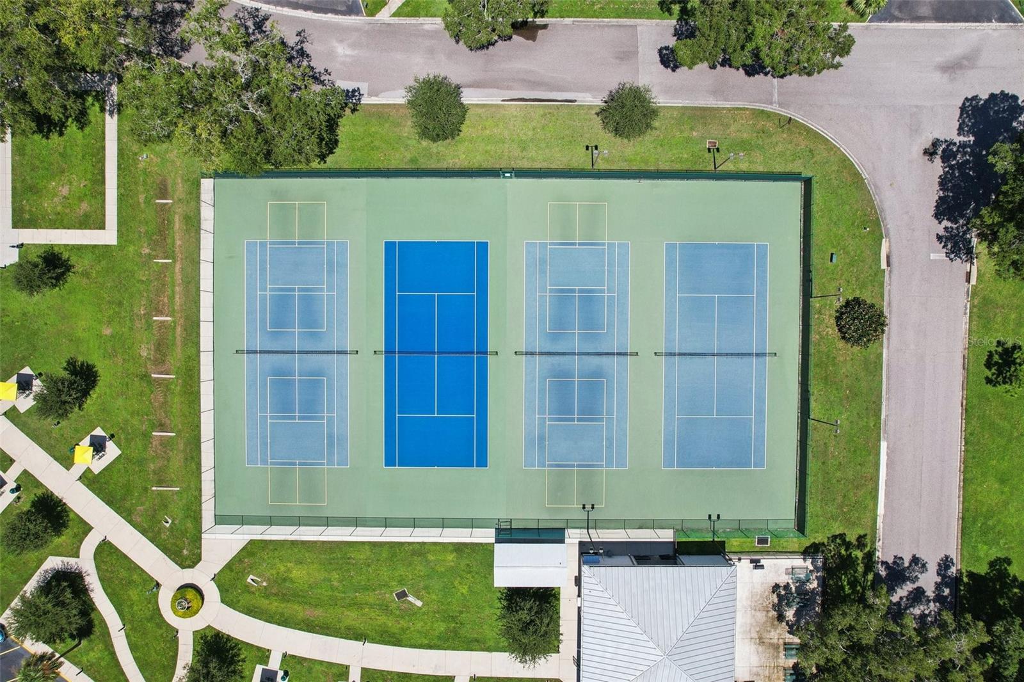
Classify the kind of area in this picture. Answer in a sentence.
The picture captures a sports ground.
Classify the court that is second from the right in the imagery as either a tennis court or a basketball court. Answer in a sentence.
It looks like the court that is second from the right is a tennis court.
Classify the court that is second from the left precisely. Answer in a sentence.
Specifically, the court that is second from the left is a tennis court.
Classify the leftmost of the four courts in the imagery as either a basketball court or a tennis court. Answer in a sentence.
The leftmost of the four courts appears to be a tennis court.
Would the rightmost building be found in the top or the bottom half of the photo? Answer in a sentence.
Seen from above, the rightmost building lies in the bottom half of the view.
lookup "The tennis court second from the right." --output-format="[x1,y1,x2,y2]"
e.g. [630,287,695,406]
[507,179,648,530]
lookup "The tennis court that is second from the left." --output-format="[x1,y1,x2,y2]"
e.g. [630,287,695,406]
[366,179,507,529]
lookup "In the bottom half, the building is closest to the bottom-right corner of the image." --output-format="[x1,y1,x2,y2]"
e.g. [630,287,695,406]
[580,555,737,682]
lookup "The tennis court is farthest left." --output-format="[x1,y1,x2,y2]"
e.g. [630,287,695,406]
[214,179,367,528]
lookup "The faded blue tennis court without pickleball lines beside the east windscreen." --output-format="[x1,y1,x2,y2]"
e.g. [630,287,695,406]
[647,179,802,530]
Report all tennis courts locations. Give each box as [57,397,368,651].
[507,179,648,530]
[647,179,802,530]
[214,179,367,528]
[366,179,507,529]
